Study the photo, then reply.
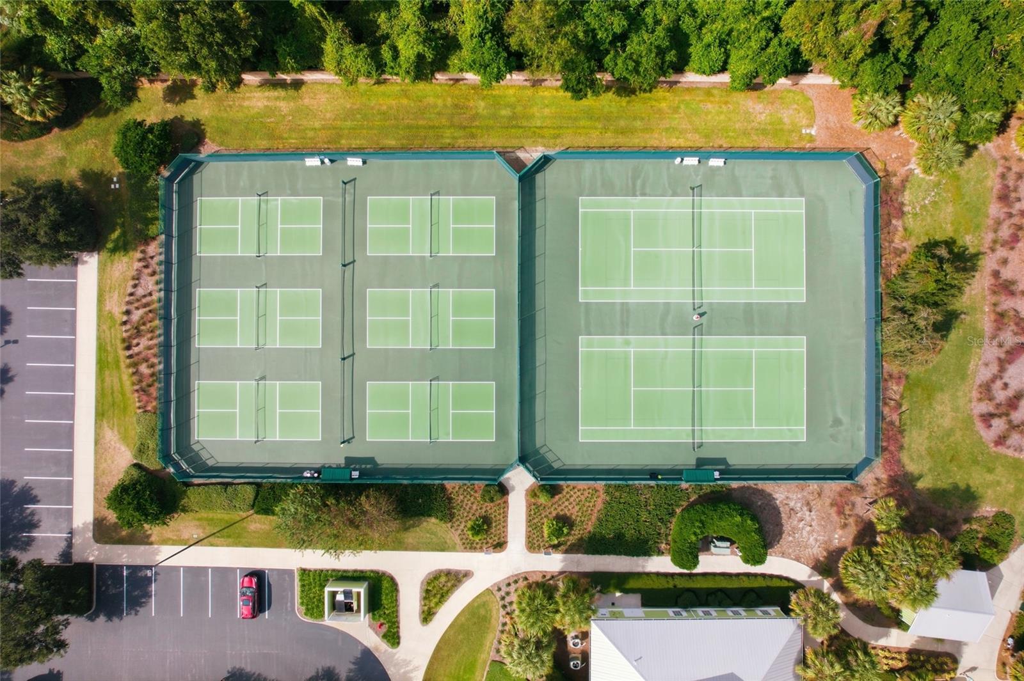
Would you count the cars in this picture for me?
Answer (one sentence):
Altogether the scene contains 1 car.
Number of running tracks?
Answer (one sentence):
The photo contains no running tracks.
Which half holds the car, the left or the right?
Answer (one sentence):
The car appears in the left half of the scene.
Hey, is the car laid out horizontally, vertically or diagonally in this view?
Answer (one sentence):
The car is oriented vertically.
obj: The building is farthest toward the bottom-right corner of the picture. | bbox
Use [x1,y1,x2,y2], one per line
[900,566,995,643]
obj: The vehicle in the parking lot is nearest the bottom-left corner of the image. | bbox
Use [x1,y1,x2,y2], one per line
[238,576,260,621]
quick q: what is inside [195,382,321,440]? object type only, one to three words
sports court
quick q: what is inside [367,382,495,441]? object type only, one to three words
sports court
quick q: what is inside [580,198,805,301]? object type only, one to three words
tennis court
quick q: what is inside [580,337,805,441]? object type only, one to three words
tennis court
